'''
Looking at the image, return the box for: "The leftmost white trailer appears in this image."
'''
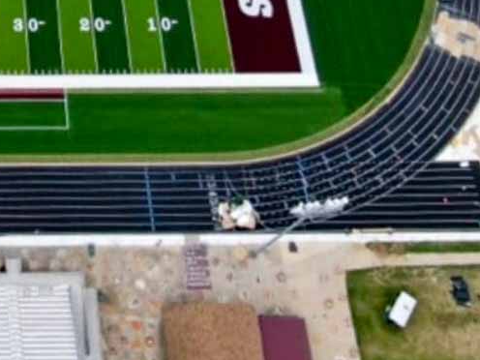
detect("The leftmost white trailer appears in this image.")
[384,293,415,329]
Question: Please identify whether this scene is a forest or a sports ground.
sports ground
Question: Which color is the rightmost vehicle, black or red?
black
